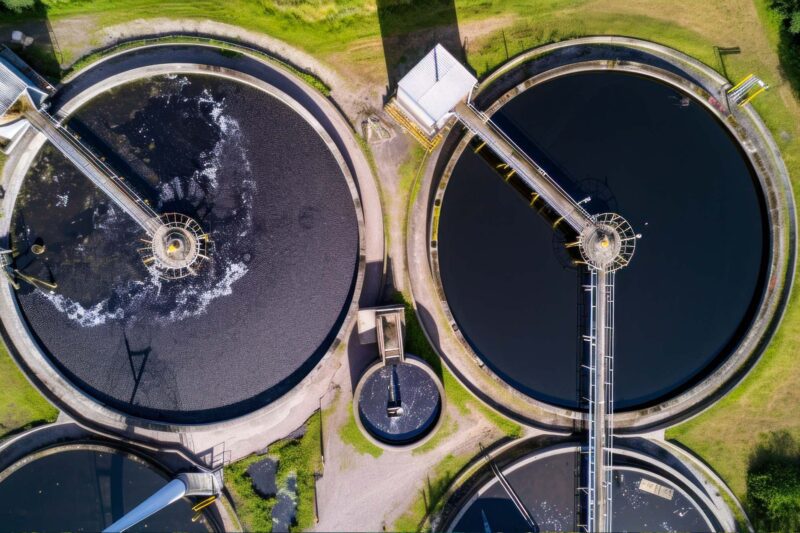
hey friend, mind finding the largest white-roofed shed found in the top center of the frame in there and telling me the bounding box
[396,43,477,140]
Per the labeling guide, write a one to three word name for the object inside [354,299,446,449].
storage tank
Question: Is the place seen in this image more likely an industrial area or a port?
industrial area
